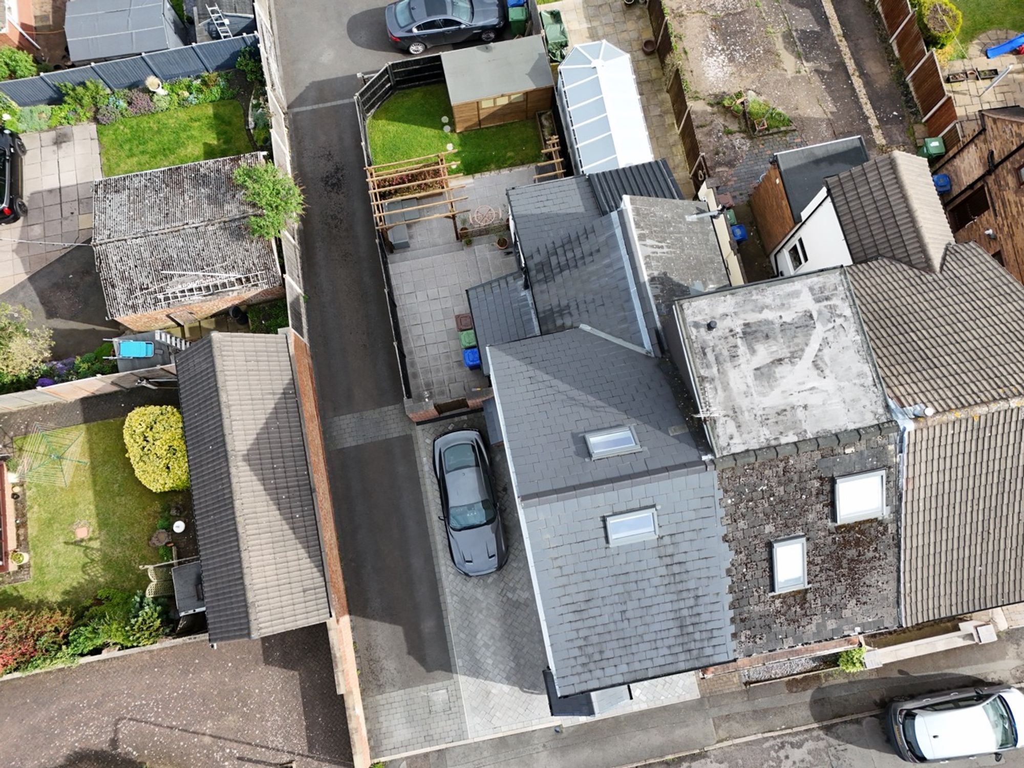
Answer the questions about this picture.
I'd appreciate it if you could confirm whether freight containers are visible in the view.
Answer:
No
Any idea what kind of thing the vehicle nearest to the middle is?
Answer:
automobile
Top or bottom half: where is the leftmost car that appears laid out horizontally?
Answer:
top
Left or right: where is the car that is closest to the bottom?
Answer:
right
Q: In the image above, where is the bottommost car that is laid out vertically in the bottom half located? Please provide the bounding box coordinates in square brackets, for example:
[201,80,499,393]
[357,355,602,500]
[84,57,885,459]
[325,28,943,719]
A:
[433,427,507,578]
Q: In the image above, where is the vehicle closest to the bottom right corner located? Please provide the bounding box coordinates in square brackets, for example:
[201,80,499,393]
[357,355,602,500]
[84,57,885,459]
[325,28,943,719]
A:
[882,678,1024,766]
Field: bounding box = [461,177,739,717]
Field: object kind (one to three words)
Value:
house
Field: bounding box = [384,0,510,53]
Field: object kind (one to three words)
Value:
car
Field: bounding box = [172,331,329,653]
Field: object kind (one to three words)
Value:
building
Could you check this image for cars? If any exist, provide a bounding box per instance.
[384,0,510,53]
[0,125,31,229]
[882,678,1024,766]
[433,427,507,578]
